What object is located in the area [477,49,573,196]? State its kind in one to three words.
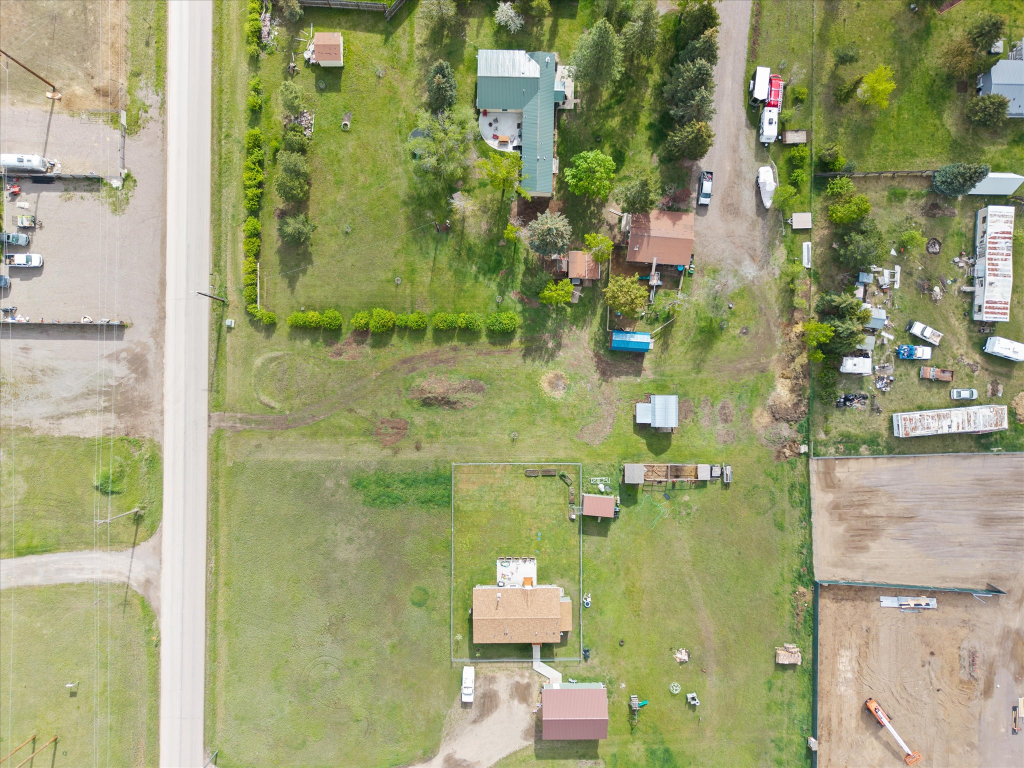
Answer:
house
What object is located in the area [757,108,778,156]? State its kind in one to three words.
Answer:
trailer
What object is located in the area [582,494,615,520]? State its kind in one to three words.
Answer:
shed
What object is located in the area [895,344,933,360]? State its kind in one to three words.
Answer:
vehicle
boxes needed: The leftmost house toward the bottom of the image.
[471,573,572,644]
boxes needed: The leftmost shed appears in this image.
[312,33,345,67]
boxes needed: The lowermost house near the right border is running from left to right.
[887,405,1008,438]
